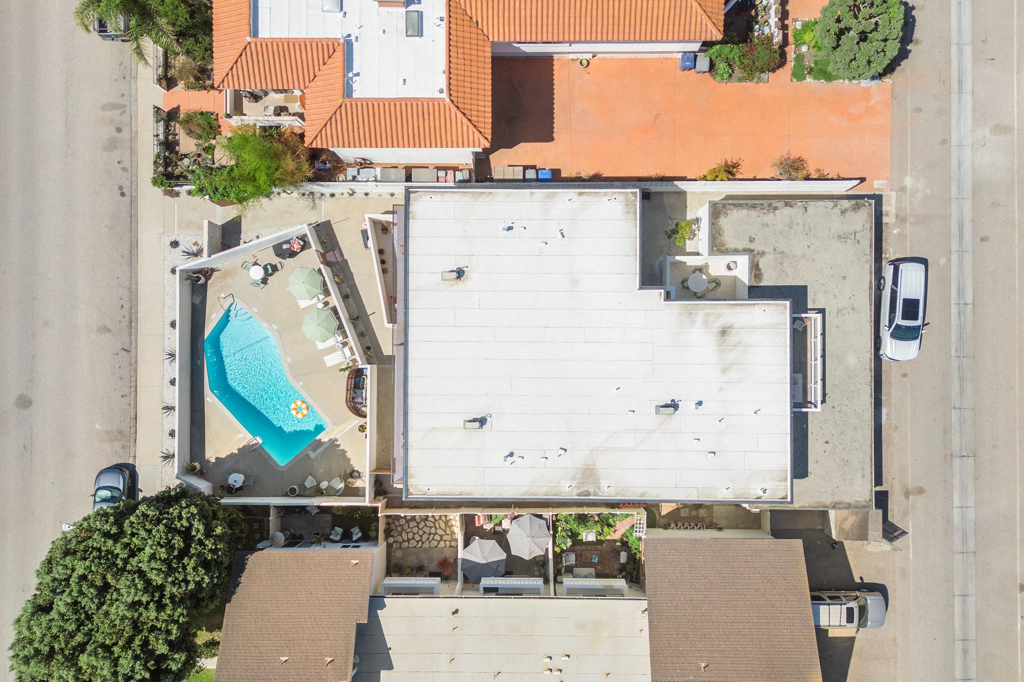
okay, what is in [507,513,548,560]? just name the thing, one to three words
umbrella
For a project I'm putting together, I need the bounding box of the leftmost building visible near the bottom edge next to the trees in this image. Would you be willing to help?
[217,539,374,682]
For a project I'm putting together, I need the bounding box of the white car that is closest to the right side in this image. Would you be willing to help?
[876,260,932,361]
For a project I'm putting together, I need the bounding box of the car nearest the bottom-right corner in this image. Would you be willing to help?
[810,589,888,638]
